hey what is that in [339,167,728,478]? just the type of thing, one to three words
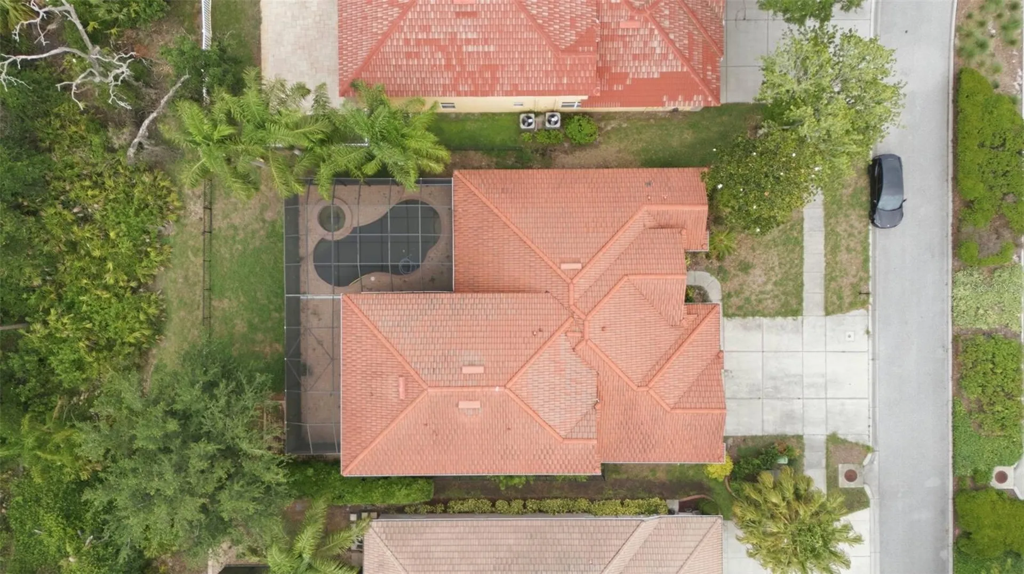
house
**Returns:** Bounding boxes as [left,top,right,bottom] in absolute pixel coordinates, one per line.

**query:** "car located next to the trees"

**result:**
[868,154,907,227]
